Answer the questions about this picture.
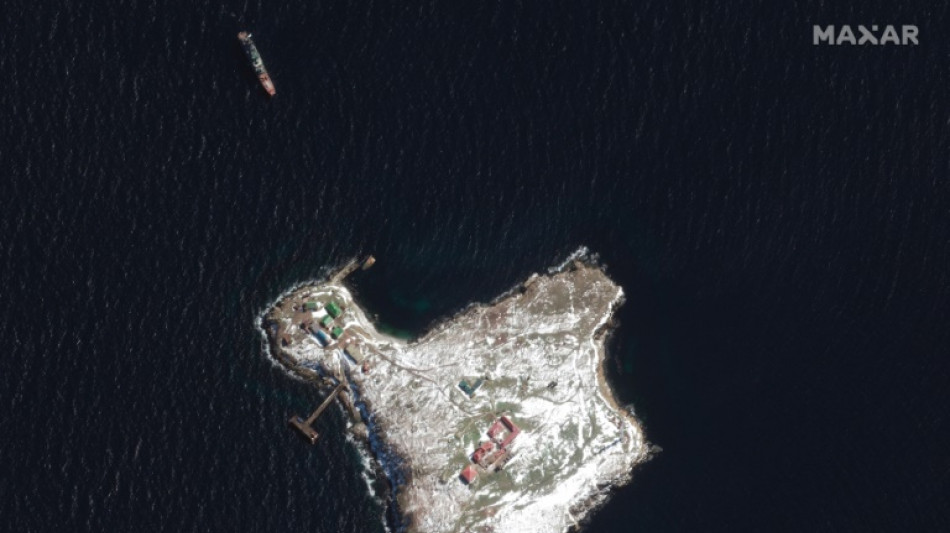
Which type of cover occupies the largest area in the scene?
water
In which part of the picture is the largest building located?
bottom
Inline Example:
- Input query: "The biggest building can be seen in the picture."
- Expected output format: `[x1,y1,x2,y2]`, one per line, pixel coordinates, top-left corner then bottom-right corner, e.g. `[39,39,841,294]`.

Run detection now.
[486,415,521,448]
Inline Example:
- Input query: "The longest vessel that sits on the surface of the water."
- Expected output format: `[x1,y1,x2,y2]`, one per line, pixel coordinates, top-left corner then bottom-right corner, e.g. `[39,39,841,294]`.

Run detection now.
[238,34,276,95]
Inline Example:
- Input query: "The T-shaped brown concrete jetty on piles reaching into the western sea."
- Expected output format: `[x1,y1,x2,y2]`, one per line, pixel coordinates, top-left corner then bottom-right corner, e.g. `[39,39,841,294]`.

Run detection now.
[289,382,345,439]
